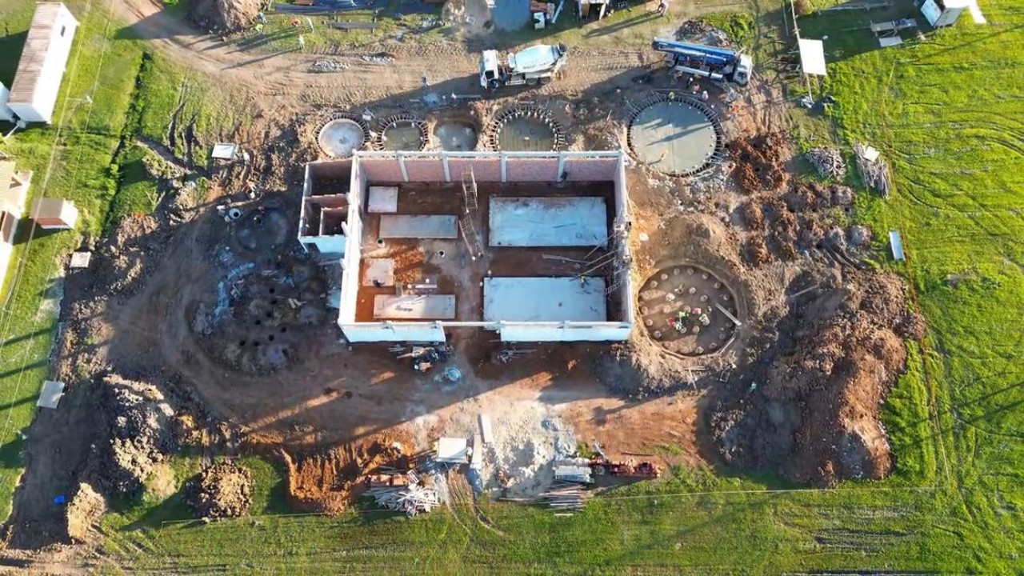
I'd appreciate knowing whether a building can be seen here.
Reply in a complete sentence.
Yes, the picture does show a building.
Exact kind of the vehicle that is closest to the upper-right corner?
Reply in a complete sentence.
Specifically, the vehicle that is closest to the upper-right corner is a truck.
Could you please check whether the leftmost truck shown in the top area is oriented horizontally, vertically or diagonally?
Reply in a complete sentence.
Seen from above, the leftmost truck shown in the top area lies horizontally.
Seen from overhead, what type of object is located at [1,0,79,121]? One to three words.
house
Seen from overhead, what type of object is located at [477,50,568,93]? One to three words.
truck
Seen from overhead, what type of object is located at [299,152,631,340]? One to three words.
building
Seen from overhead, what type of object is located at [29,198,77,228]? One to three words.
shed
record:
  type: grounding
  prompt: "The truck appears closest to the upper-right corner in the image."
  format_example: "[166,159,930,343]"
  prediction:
[655,38,755,93]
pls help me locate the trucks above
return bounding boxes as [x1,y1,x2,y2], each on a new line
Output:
[477,50,568,93]
[655,38,755,93]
